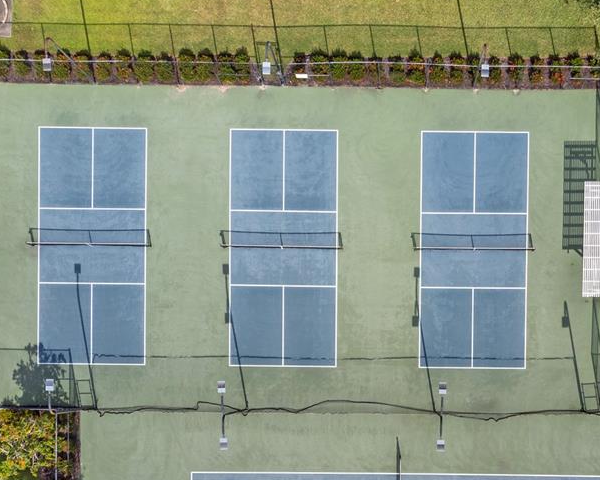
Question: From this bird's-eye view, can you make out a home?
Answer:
No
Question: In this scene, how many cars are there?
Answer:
none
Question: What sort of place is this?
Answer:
sports ground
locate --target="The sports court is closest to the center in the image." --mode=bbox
[229,129,339,368]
